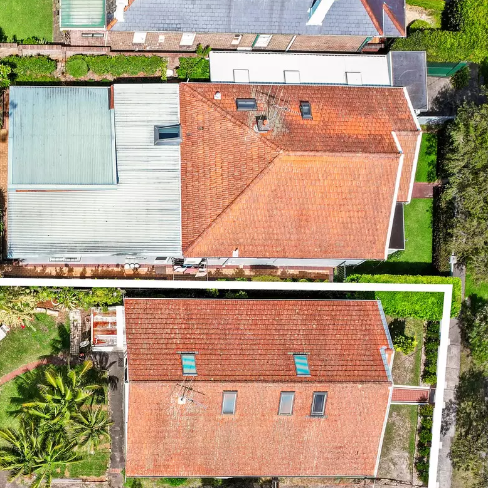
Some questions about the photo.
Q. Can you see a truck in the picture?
No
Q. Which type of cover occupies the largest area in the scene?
buildings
